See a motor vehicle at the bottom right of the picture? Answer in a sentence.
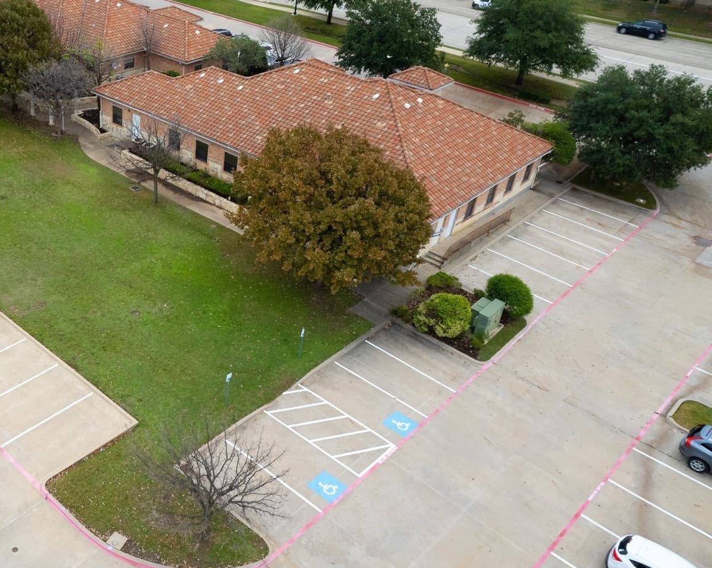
Yes, there is a motor vehicle at the bottom right of the picture.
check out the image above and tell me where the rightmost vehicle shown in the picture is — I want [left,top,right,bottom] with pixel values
[679,422,712,468]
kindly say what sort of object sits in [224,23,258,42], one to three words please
car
